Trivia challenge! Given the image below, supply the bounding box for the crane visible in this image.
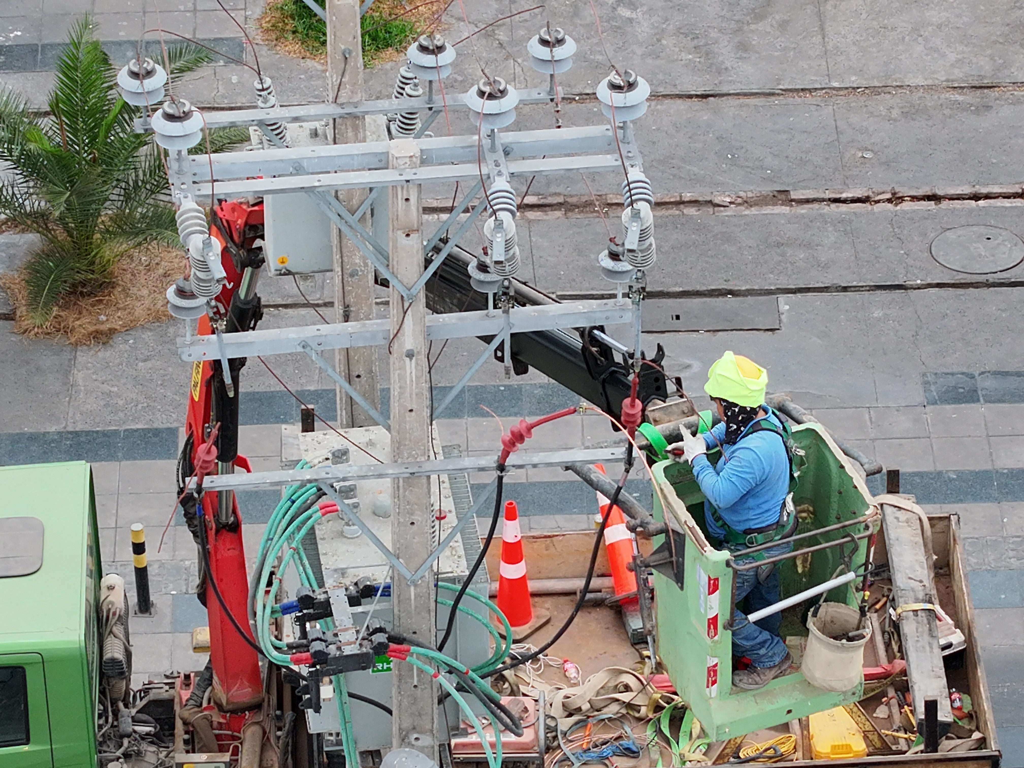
[178,172,692,768]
